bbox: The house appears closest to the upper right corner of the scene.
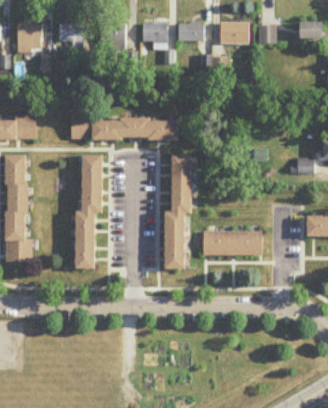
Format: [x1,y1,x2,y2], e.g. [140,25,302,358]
[299,22,324,41]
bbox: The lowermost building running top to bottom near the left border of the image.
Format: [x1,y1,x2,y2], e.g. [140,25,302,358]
[5,155,39,262]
